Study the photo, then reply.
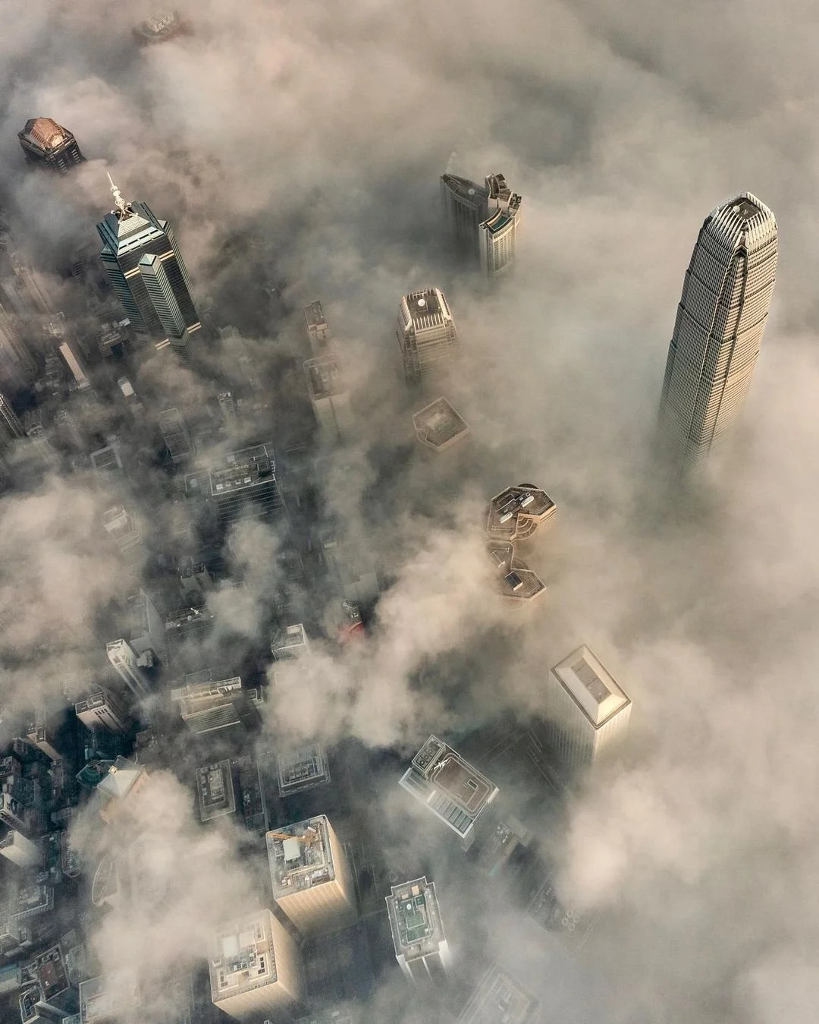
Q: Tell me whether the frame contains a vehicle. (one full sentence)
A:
No, no vehicle can be seen from above.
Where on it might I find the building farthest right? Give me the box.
[644,189,785,567]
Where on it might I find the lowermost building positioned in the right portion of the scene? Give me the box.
[457,964,542,1024]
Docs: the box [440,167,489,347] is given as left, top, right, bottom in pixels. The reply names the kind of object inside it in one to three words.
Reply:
building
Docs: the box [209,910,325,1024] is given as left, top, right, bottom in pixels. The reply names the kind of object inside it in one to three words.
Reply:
building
